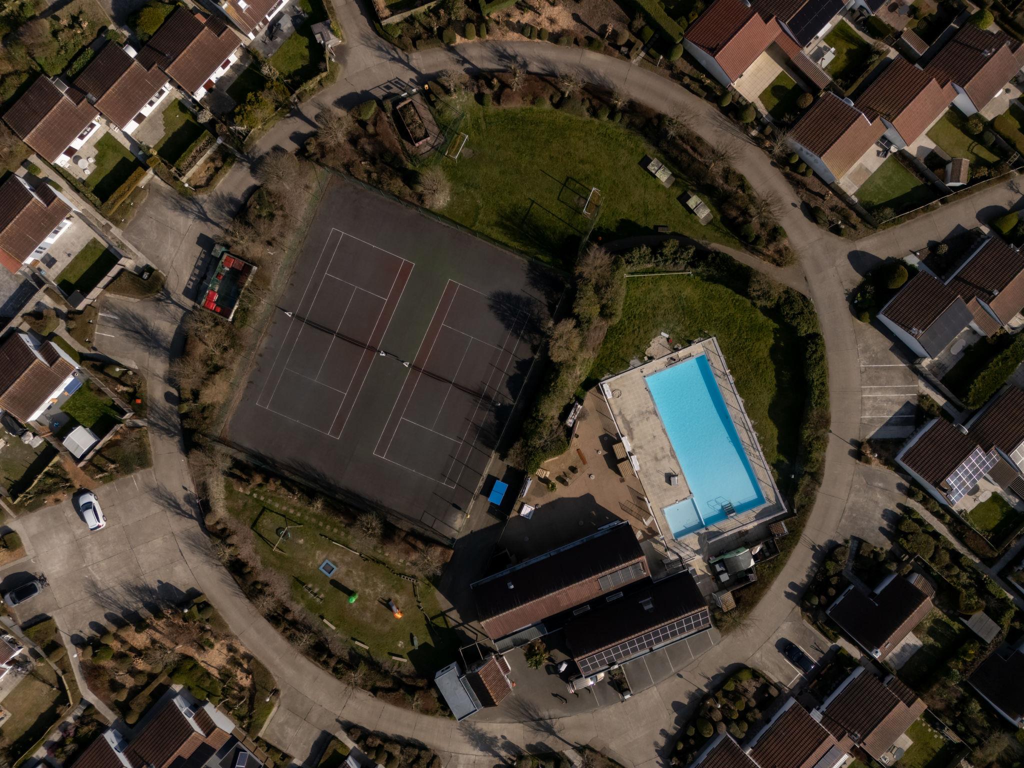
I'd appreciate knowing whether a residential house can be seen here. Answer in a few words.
Yes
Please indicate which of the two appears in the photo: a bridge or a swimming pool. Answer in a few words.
swimming pool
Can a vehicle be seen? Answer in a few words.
Yes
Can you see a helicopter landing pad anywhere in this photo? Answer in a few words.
No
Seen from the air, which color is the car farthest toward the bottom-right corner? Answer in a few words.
black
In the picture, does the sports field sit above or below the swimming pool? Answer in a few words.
above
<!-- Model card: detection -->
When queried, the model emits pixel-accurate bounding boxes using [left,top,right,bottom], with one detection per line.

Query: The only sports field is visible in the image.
[417,99,769,275]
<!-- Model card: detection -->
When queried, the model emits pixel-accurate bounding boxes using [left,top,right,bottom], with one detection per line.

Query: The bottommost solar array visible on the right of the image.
[814,742,850,768]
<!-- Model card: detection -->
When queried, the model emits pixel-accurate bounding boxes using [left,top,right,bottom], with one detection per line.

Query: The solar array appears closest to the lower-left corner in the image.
[174,736,222,768]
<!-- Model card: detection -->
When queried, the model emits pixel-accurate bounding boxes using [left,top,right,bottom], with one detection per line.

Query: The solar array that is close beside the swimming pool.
[578,610,710,672]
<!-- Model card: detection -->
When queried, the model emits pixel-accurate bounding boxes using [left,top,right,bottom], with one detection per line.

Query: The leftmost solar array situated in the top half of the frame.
[788,0,835,48]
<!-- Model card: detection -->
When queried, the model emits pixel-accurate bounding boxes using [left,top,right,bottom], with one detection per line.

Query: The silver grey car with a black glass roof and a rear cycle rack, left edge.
[6,577,47,605]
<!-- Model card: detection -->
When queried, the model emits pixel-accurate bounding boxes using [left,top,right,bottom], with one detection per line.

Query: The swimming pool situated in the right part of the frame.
[601,337,788,561]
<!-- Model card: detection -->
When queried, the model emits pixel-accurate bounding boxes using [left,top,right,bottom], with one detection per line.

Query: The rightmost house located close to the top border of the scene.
[922,23,1024,118]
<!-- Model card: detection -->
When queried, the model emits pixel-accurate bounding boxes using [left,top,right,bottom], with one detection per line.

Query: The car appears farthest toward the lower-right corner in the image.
[781,643,814,677]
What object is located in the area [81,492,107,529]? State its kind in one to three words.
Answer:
car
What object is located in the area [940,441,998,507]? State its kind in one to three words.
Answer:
solar array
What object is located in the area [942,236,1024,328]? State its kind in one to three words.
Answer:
house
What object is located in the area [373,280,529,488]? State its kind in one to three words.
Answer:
tennis court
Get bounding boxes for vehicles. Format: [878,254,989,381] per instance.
[781,643,814,677]
[564,672,604,697]
[6,577,47,605]
[81,492,107,529]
